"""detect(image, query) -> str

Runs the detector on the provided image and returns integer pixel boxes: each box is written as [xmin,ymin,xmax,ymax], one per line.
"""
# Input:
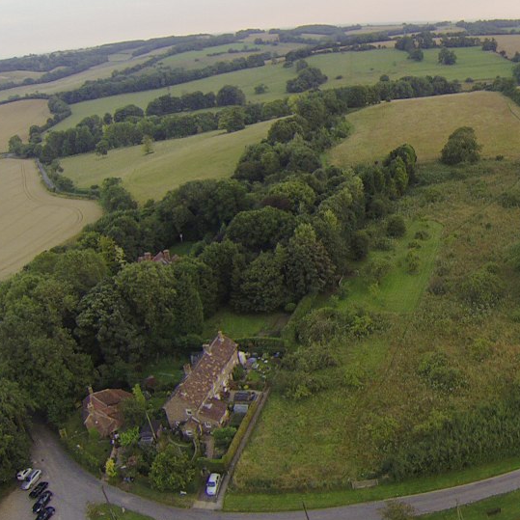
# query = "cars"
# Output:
[207,470,220,492]
[27,478,50,497]
[14,462,32,479]
[21,466,41,486]
[33,489,51,508]
[34,504,55,520]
